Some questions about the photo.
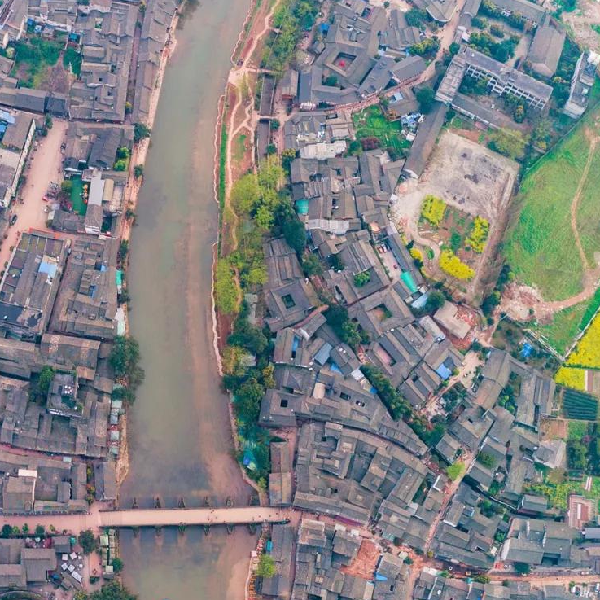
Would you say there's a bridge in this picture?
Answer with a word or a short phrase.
Yes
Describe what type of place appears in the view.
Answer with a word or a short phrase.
residential area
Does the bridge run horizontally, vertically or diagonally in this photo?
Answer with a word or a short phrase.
horizontally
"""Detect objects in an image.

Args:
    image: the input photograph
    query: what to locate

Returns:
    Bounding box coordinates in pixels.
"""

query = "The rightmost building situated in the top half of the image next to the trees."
[556,52,599,122]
